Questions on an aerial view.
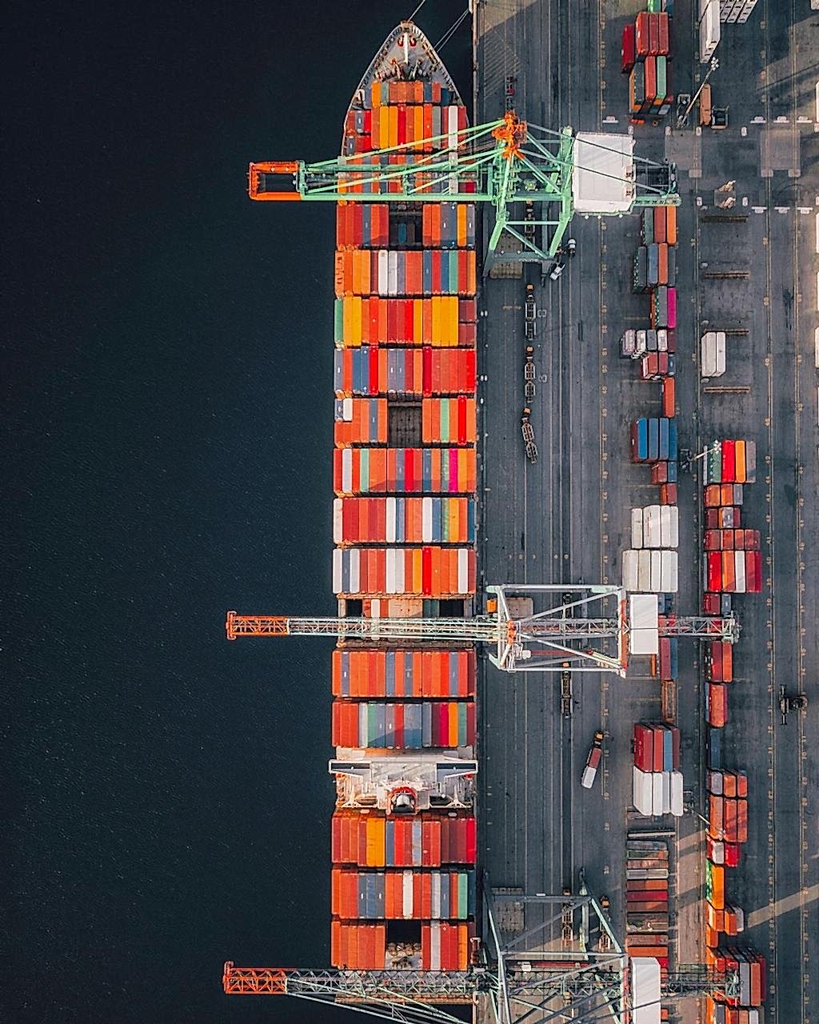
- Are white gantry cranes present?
Yes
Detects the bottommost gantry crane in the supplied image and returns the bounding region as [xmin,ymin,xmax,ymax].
[221,870,744,1024]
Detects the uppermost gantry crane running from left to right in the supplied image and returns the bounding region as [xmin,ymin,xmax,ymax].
[251,113,681,290]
